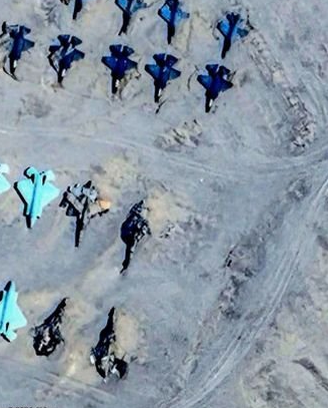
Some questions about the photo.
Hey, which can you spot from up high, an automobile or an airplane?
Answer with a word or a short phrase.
airplane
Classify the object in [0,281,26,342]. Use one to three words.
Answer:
airplane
